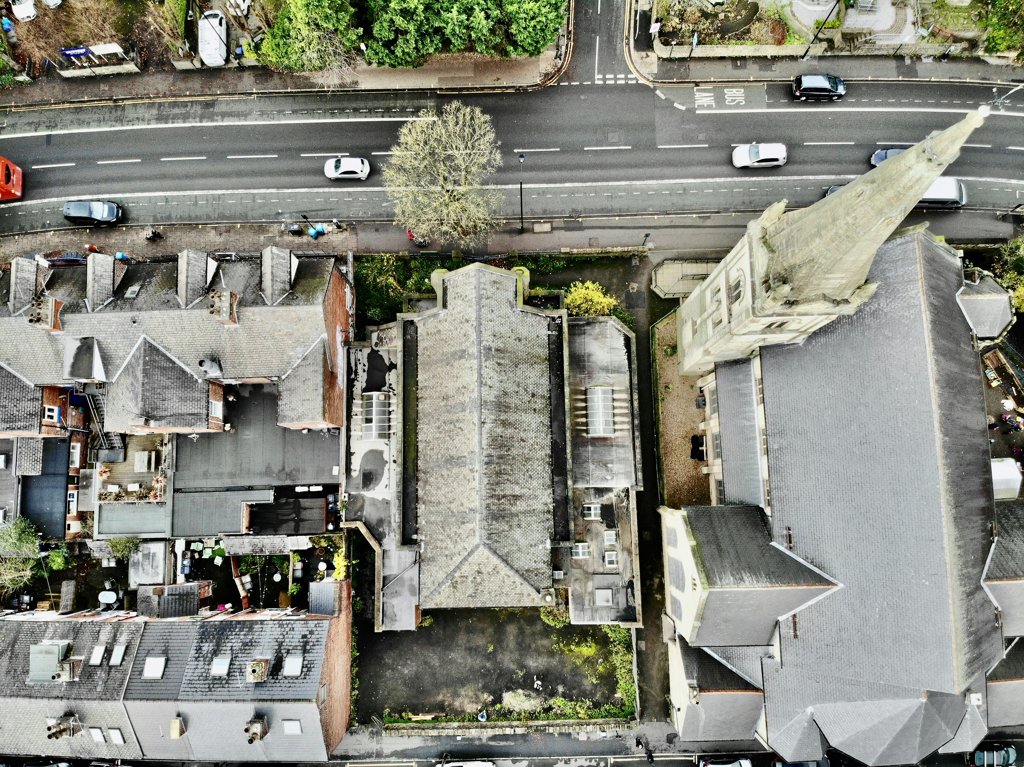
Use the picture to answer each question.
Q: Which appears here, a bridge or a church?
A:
church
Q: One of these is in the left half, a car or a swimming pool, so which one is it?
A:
car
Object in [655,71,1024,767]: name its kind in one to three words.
church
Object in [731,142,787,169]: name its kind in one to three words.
car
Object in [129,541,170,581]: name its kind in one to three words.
shed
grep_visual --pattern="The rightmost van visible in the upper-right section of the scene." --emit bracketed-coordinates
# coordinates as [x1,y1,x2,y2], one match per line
[916,176,962,209]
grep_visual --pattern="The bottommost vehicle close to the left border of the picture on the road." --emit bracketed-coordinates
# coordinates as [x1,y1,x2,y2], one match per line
[0,166,38,209]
